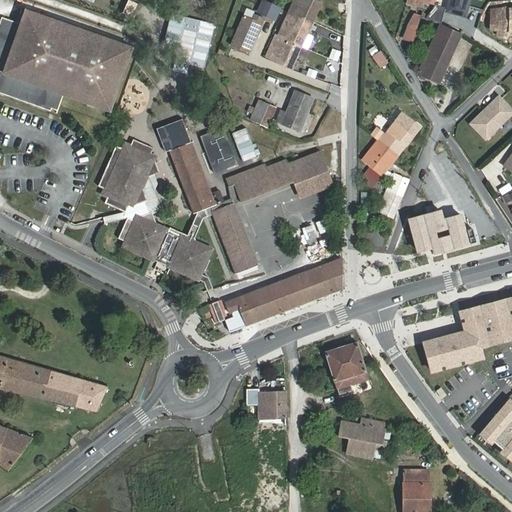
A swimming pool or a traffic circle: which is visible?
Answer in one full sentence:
This aerial view contains a traffic circle.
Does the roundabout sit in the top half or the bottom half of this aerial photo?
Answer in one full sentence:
The roundabout is in the bottom half of the image.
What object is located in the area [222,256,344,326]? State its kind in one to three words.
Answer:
building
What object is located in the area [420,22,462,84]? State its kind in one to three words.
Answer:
barn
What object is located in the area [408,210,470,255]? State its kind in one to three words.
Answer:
building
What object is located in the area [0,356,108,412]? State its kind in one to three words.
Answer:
house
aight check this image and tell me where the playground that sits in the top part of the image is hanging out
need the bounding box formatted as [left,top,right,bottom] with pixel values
[122,79,149,115]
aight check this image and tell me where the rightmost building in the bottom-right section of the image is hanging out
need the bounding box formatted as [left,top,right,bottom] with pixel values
[480,398,512,462]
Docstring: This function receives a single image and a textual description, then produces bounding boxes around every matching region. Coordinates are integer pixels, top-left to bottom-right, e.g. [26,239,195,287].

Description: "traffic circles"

[154,346,228,419]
